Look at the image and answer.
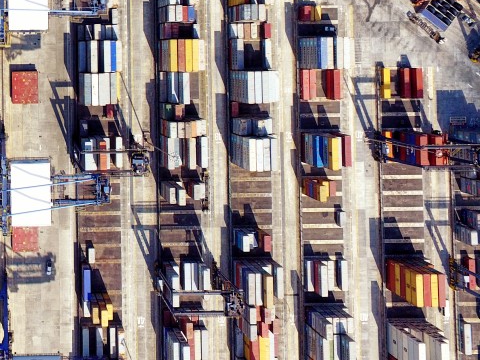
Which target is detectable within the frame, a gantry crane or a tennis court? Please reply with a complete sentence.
Visible in the photo is a gantry crane.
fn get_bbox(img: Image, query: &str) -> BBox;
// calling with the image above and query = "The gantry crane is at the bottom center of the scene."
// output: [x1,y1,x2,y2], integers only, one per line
[154,261,247,321]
